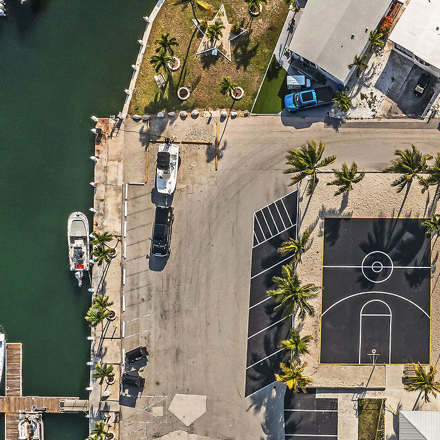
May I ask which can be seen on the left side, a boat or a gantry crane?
boat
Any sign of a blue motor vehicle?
Yes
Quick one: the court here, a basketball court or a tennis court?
basketball court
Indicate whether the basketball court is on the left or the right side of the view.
right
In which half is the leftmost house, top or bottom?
top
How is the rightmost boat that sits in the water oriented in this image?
from top to bottom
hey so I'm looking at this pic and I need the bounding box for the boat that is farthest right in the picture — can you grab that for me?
[154,133,179,194]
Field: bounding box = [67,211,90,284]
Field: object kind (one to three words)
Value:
boat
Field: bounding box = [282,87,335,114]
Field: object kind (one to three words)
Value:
truck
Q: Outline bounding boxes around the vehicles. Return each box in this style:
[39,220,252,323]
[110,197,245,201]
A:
[123,348,150,365]
[413,74,430,100]
[121,374,148,389]
[288,74,310,93]
[150,204,176,259]
[282,87,335,114]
